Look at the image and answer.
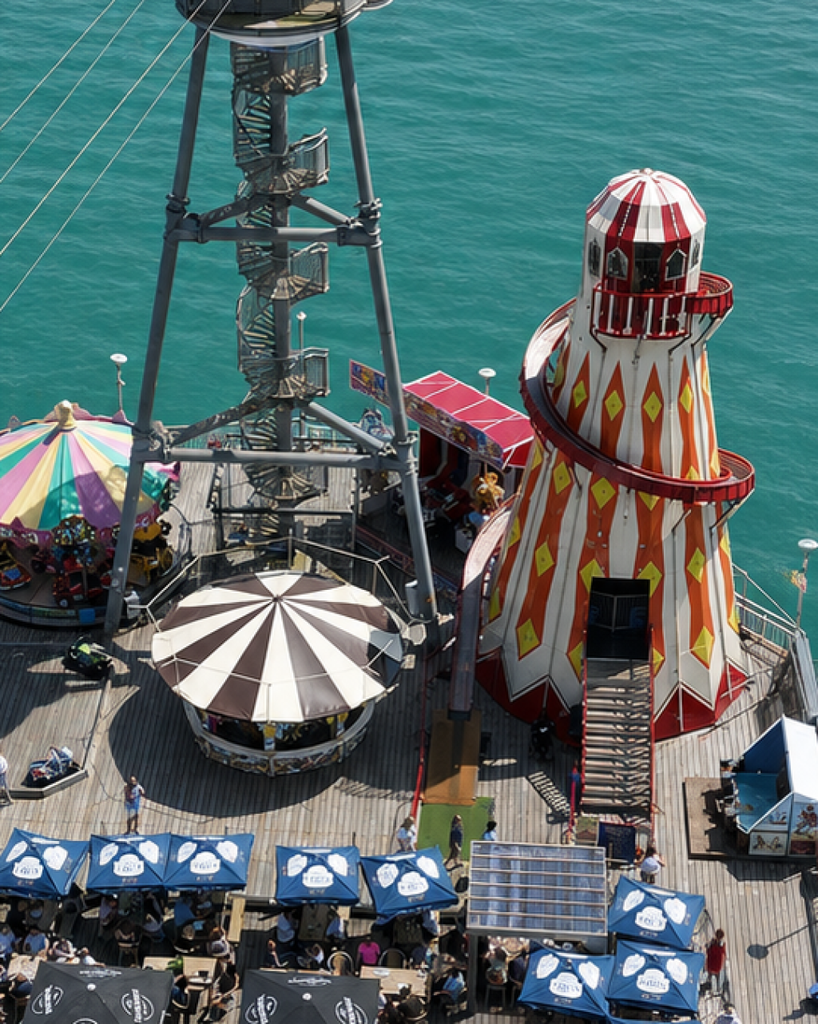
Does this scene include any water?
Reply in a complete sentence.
Yes, there's water in this view.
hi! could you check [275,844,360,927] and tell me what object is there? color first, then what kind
blue umbrella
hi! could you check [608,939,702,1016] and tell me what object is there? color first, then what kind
blue umbrella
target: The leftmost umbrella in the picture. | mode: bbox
[0,831,85,909]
